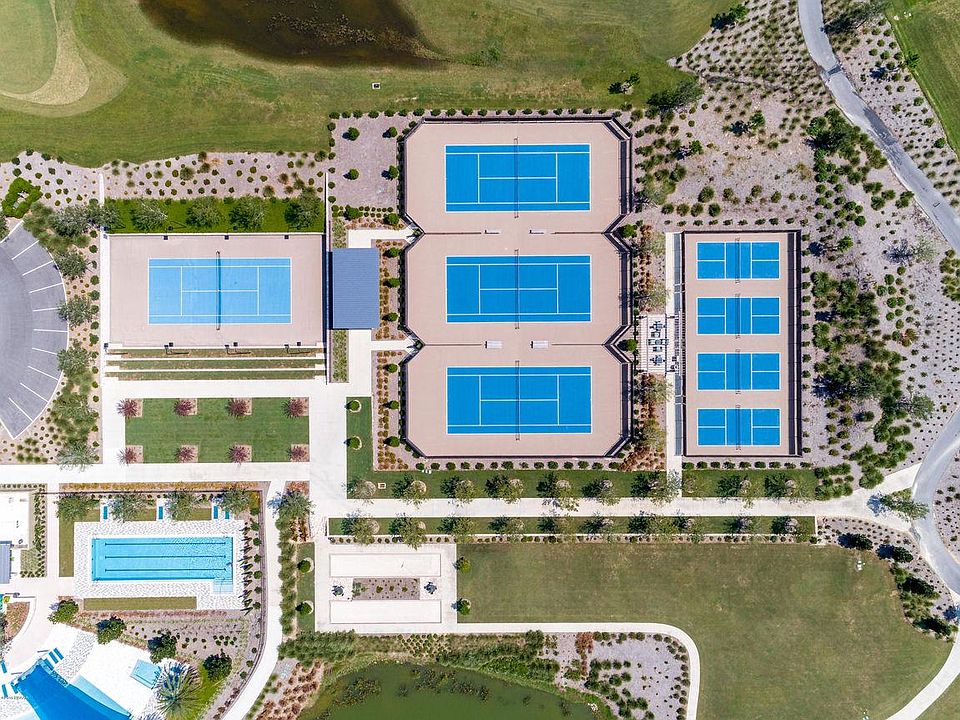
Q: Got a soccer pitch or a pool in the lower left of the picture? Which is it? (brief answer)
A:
pool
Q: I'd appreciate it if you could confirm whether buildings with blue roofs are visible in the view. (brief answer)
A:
Yes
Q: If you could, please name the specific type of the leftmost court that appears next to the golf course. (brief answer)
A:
tennis court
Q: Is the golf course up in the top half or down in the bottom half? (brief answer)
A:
top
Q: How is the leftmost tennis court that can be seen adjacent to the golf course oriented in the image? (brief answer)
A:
from side to side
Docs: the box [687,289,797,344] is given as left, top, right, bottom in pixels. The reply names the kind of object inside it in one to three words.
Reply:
sports court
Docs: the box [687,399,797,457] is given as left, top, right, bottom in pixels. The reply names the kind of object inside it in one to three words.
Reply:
sports court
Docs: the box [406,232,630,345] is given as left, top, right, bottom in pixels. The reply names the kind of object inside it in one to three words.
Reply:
tennis court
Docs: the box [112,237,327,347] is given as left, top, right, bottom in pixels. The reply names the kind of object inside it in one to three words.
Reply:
tennis court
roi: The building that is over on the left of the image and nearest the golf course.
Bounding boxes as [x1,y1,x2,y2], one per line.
[333,248,381,329]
